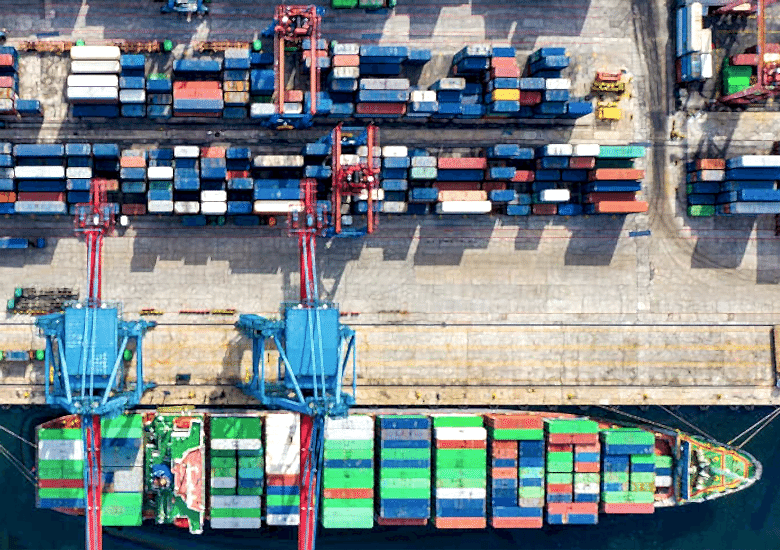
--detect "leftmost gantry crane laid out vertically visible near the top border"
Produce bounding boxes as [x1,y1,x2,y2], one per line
[267,0,320,130]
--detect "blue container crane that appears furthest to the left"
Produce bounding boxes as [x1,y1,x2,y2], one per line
[42,172,163,550]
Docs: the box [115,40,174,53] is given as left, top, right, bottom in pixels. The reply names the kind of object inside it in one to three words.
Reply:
vehicle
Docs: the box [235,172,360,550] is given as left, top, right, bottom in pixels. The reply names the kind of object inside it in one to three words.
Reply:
container crane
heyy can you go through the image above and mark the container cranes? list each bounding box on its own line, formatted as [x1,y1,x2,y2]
[712,0,780,113]
[267,0,320,130]
[42,172,163,550]
[320,119,377,241]
[235,172,360,550]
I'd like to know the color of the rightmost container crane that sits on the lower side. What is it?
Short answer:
blue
